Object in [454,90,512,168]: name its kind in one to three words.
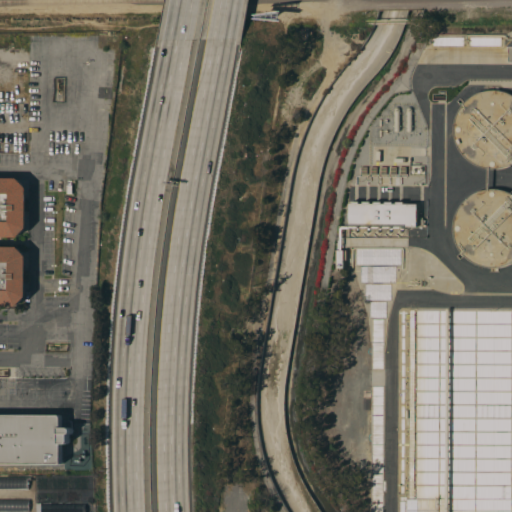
storage tank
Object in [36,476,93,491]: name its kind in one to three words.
house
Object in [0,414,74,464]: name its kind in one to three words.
building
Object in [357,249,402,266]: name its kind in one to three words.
shed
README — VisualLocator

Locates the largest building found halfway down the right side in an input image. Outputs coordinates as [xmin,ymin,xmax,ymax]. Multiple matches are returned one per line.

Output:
[348,202,416,226]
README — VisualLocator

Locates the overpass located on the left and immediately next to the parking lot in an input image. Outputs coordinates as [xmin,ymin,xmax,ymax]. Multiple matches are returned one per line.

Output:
[155,0,248,48]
